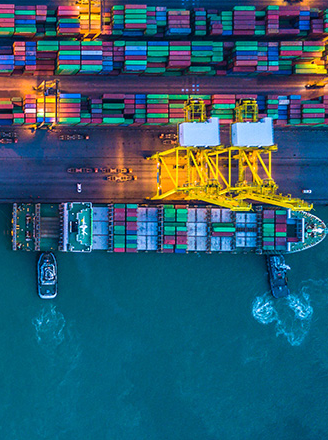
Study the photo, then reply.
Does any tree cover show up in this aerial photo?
No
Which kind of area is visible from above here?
port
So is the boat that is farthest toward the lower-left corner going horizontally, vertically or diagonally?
vertically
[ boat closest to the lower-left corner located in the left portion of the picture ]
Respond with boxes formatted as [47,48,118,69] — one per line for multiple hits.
[37,252,57,298]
